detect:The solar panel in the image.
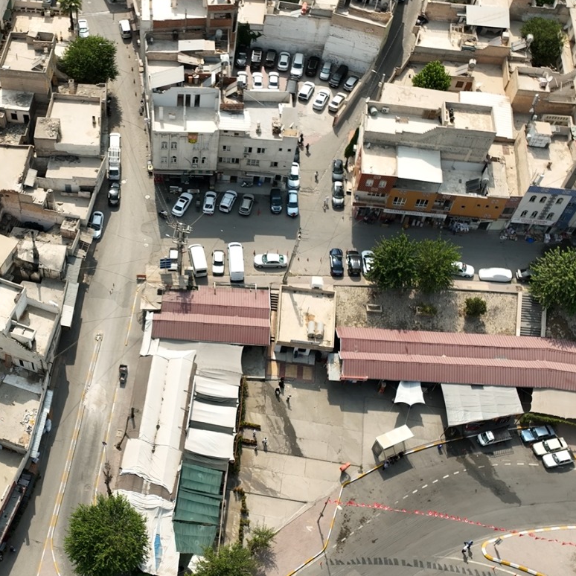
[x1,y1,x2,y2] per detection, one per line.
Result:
[157,256,173,272]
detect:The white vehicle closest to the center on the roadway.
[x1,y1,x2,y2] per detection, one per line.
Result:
[254,253,287,269]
